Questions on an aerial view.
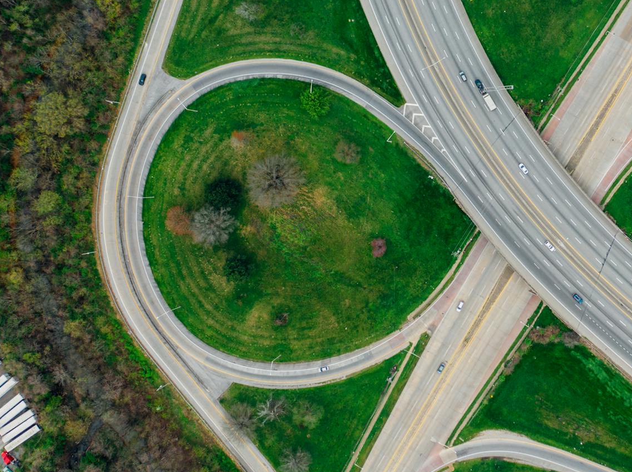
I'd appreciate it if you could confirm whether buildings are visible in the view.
No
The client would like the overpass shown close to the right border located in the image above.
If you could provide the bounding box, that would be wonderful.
[453,106,621,328]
